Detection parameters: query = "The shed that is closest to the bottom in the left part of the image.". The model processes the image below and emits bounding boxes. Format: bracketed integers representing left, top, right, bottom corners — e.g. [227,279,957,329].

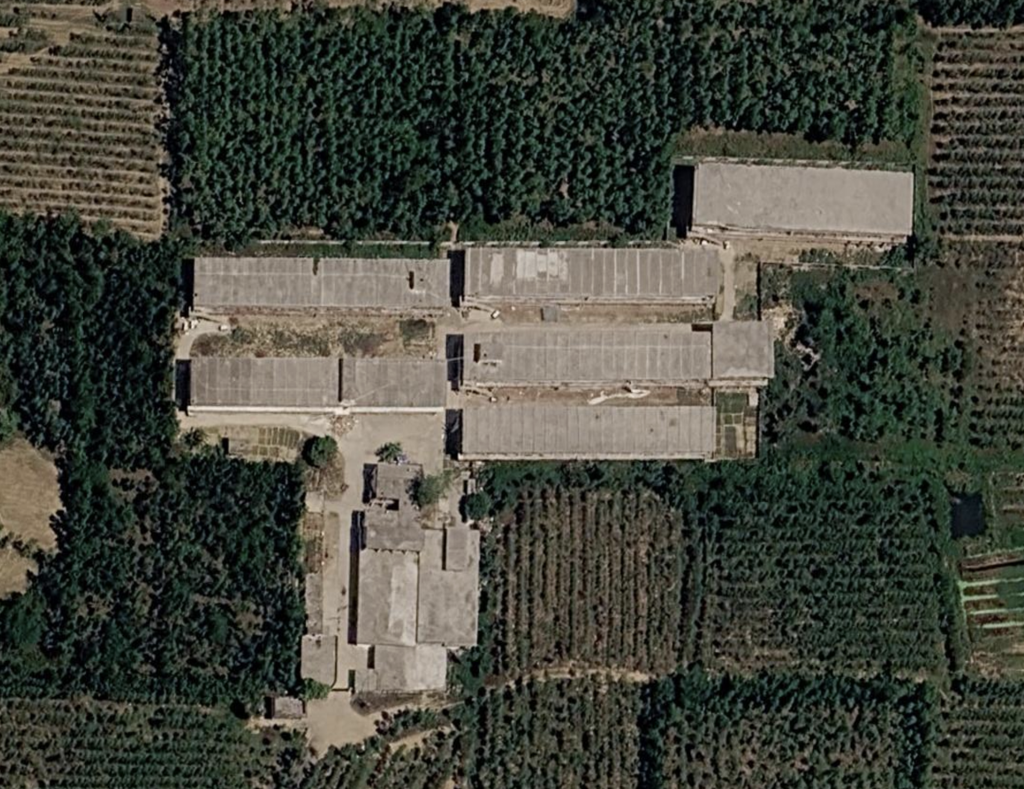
[274,699,304,722]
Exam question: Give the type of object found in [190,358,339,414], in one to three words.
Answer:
shed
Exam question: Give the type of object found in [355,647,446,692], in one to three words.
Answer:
house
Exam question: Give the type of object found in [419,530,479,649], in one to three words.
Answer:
building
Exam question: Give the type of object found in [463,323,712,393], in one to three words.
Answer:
shed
